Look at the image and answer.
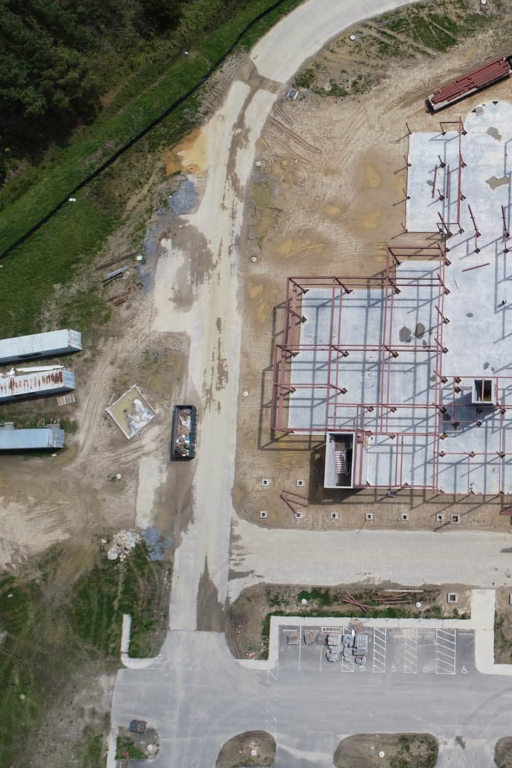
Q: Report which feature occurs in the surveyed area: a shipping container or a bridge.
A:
shipping container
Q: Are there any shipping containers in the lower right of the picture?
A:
No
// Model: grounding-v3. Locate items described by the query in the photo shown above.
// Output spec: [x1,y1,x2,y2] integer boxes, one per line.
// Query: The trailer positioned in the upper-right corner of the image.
[427,55,512,111]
